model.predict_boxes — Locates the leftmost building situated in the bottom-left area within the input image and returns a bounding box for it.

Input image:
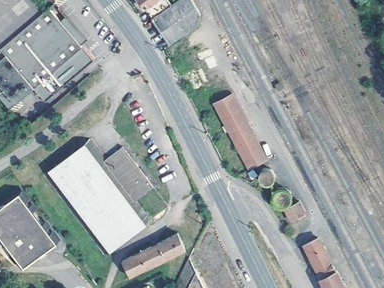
[0,189,62,270]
